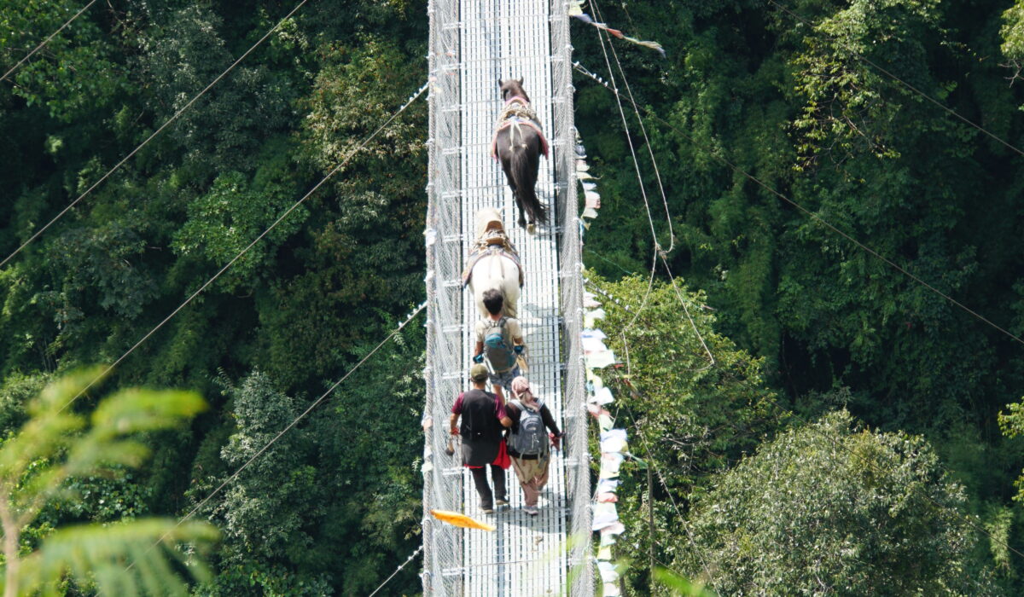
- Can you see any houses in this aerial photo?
No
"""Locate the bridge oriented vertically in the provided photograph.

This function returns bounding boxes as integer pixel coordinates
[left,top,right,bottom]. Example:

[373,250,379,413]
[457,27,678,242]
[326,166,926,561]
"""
[422,0,594,597]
